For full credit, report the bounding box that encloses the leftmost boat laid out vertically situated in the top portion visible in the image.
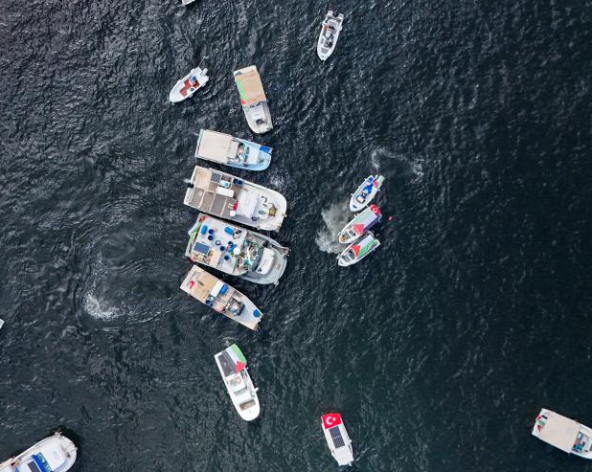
[232,65,271,134]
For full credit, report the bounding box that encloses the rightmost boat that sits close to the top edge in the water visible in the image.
[319,11,344,60]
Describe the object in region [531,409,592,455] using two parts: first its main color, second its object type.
white boat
